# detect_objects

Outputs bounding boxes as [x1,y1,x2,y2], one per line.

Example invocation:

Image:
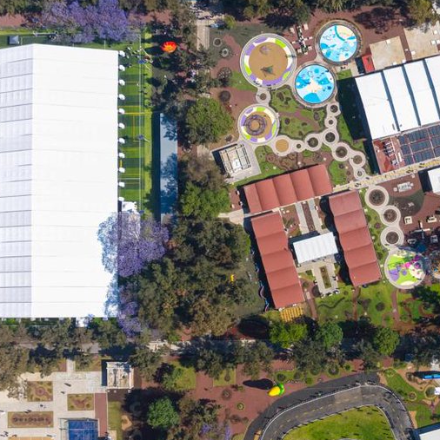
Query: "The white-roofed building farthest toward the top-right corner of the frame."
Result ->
[355,56,440,176]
